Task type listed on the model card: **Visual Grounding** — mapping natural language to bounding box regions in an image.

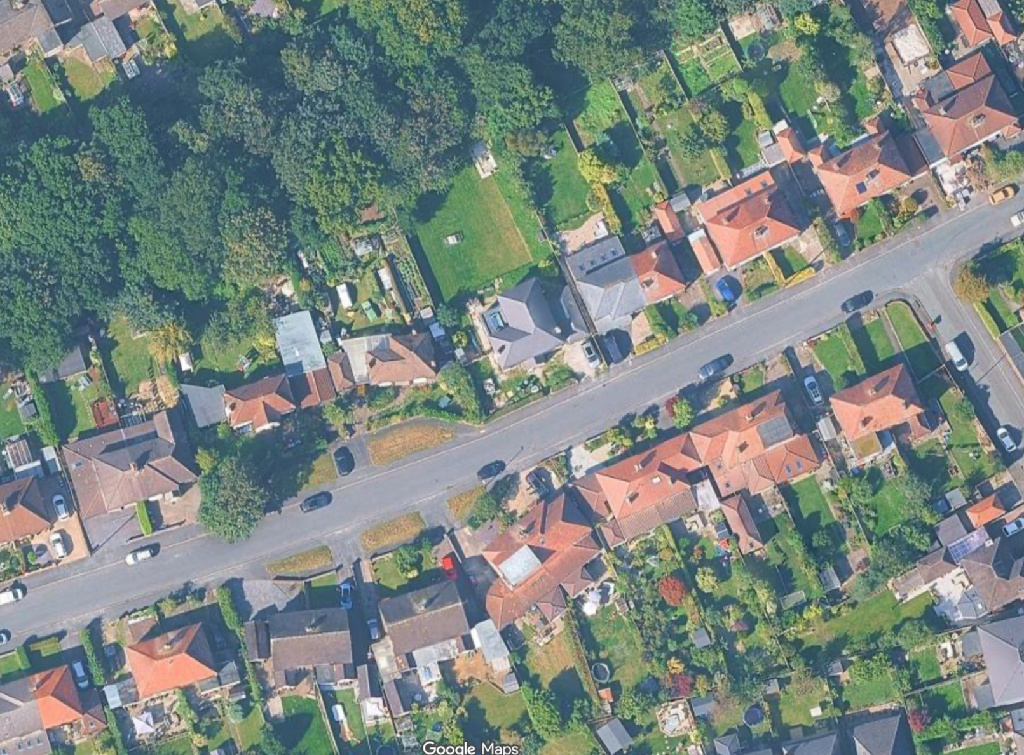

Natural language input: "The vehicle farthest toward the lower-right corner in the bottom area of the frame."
[1000,516,1024,538]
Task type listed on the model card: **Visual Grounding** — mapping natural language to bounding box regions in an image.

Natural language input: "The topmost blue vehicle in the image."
[833,218,852,247]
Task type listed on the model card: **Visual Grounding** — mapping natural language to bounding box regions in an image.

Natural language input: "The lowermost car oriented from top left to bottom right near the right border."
[994,423,1020,456]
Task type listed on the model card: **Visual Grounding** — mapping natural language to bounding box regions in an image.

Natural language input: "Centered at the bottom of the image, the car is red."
[441,552,458,581]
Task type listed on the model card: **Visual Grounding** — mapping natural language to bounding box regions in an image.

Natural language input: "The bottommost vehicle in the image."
[71,659,89,689]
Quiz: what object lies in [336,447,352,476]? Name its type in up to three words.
car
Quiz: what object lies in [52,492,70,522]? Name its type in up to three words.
car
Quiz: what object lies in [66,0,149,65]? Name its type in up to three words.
house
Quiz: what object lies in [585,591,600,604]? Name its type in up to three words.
umbrella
